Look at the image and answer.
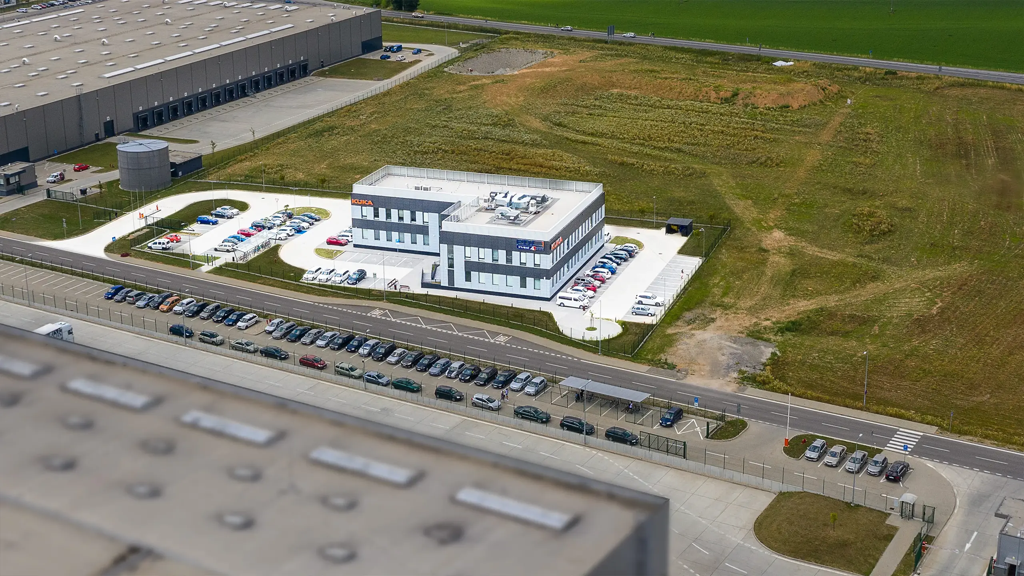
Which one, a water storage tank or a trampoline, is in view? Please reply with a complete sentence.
This aerial view contains a water storage tank.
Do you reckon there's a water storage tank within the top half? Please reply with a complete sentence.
Yes, within the top half there is a water storage tank.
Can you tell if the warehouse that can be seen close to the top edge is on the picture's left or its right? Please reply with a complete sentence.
It is on the left.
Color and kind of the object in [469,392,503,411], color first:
gray car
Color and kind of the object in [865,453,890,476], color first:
gray car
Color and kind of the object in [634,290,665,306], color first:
white car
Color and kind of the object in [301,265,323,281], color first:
white car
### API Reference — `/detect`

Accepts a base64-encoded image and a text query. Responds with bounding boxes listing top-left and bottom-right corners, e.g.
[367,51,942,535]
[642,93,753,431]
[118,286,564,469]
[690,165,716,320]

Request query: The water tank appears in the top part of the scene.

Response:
[117,134,175,192]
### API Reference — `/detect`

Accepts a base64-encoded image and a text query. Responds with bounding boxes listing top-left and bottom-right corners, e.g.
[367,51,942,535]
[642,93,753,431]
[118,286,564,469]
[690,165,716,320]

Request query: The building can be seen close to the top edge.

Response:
[0,0,405,166]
